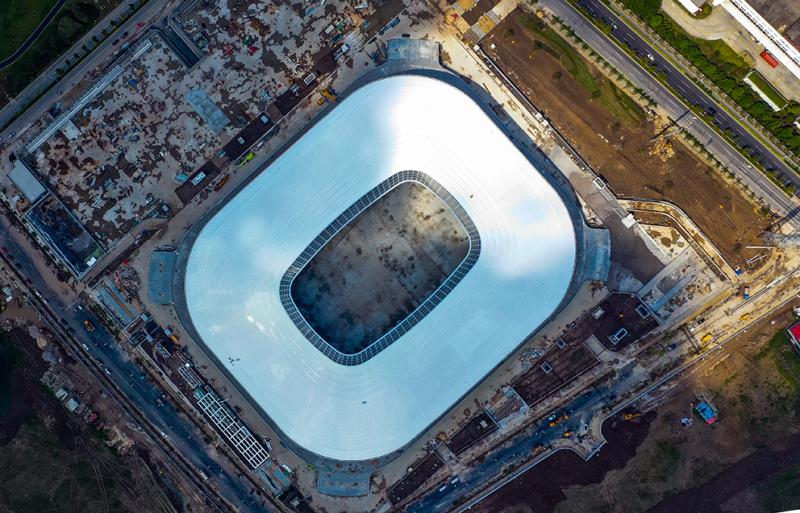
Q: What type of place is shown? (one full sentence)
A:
The picture captures a sports ground.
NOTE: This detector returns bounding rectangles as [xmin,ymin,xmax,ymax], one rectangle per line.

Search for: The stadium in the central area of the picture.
[150,40,609,494]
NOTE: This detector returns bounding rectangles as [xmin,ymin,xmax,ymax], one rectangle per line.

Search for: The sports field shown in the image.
[292,182,470,354]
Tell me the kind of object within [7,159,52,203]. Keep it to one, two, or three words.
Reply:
building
